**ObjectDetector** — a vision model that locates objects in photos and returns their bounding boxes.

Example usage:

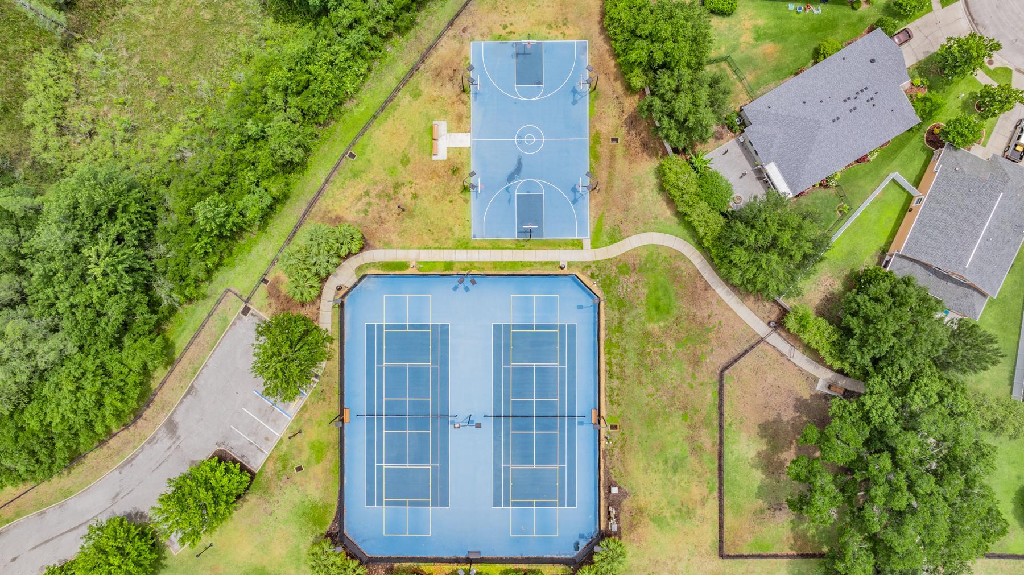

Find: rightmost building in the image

[872,141,1024,320]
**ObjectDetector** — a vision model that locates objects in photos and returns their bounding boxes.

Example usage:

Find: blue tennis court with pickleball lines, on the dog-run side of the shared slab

[492,295,577,536]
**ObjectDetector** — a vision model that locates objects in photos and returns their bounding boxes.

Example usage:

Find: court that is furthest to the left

[365,295,450,536]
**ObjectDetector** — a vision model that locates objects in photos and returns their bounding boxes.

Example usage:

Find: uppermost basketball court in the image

[471,40,590,240]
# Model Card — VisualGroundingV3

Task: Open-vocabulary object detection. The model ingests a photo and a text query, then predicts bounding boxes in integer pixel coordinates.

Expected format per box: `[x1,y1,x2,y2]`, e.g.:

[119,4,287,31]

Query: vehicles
[1006,117,1024,163]
[893,25,920,49]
